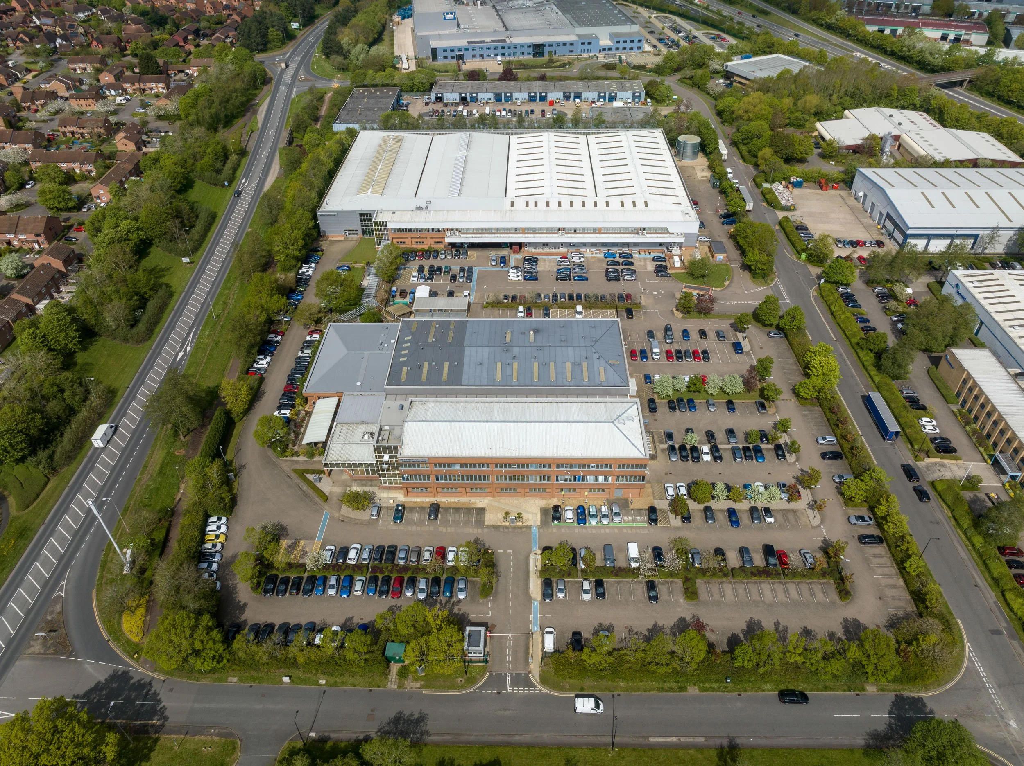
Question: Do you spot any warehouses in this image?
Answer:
Yes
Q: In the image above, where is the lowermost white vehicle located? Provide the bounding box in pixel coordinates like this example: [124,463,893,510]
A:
[572,696,605,713]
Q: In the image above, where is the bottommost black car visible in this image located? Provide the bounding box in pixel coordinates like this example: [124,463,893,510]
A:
[778,689,808,705]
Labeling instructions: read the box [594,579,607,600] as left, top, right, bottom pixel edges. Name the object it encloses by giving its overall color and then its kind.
black vehicle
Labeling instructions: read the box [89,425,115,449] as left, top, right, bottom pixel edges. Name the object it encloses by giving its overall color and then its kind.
white truck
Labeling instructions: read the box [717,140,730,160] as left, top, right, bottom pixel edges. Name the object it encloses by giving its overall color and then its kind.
white vehicle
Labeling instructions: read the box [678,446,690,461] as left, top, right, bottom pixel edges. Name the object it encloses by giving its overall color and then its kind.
black vehicle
